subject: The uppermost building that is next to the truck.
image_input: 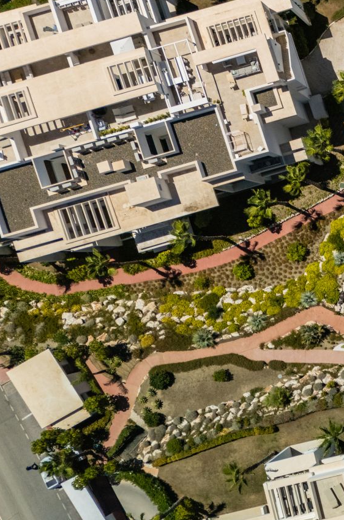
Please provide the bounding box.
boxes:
[7,347,97,434]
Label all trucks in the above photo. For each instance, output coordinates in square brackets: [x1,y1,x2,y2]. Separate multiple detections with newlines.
[44,466,105,520]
